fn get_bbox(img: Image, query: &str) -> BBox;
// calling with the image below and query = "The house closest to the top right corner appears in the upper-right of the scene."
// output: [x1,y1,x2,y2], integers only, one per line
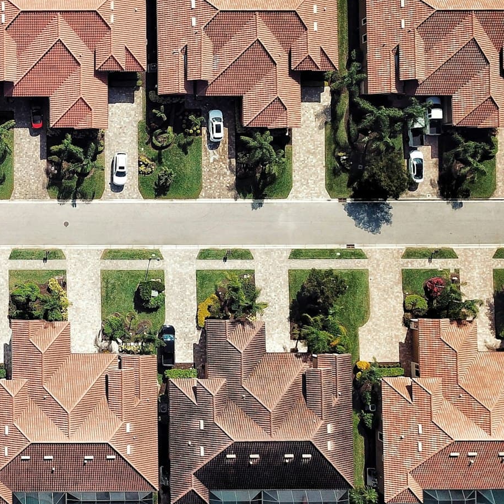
[359,0,504,128]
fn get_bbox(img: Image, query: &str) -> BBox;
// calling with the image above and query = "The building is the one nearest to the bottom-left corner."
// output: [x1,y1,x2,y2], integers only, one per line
[0,319,159,504]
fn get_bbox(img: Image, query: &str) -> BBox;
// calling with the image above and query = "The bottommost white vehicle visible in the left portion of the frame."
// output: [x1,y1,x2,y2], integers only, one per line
[112,152,128,185]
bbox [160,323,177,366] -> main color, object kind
black vehicle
